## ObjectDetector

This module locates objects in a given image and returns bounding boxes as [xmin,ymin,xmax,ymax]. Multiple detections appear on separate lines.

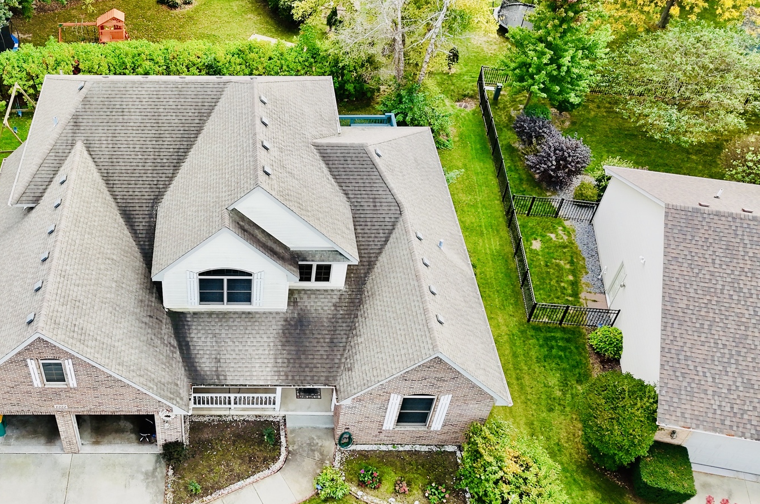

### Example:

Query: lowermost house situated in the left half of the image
[0,58,516,456]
